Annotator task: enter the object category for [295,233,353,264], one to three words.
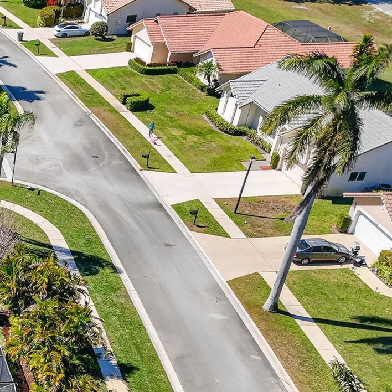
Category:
car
